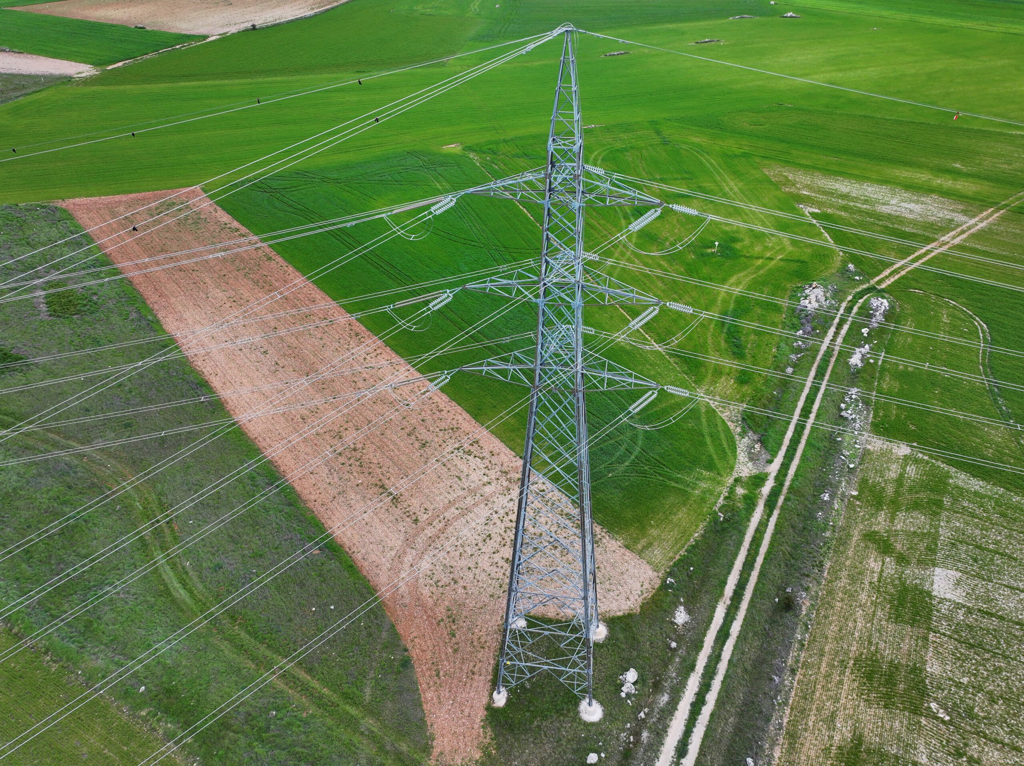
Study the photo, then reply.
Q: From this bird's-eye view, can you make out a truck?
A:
No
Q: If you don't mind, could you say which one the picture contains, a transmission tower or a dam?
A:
transmission tower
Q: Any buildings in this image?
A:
No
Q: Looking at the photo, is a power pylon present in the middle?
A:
Yes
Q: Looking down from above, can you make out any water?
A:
No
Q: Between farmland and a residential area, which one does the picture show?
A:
farmland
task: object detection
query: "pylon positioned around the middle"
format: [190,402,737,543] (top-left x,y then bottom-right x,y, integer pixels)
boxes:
[459,24,663,717]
